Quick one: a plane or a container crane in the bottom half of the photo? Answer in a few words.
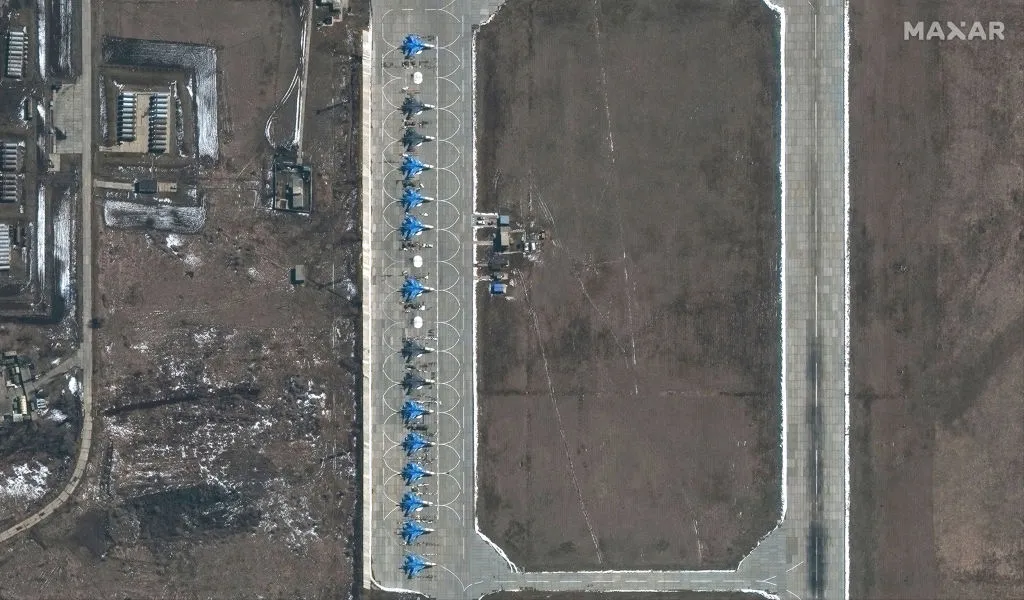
plane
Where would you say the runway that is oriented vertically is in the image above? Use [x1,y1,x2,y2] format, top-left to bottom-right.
[784,0,846,600]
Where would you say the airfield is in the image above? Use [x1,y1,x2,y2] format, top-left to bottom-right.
[371,0,846,600]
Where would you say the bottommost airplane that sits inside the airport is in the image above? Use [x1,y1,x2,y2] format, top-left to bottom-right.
[403,553,436,577]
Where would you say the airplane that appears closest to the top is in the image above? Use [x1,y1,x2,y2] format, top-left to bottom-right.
[397,34,434,58]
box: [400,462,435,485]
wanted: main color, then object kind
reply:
blue airplane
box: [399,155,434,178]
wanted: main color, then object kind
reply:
blue airplane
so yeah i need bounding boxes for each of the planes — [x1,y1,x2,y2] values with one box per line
[399,155,434,178]
[397,492,433,515]
[398,338,435,362]
[403,553,436,577]
[399,277,434,301]
[400,462,435,485]
[397,34,434,58]
[401,432,436,455]
[398,126,435,150]
[399,370,435,394]
[397,187,433,211]
[399,215,433,239]
[398,519,435,543]
[399,94,434,118]
[400,399,433,423]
